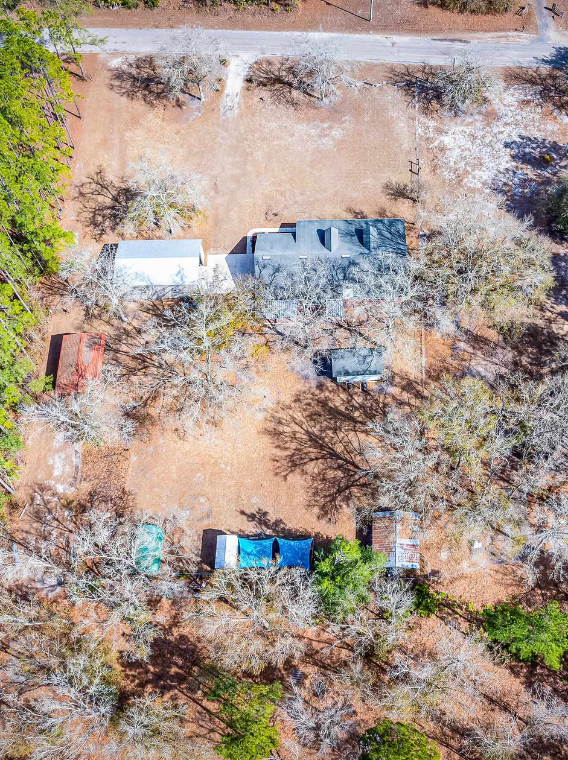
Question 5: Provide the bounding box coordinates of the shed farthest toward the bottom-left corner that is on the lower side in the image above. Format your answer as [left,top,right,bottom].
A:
[215,533,240,574]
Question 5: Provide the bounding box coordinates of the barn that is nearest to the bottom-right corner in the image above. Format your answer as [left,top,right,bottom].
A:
[372,510,421,574]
